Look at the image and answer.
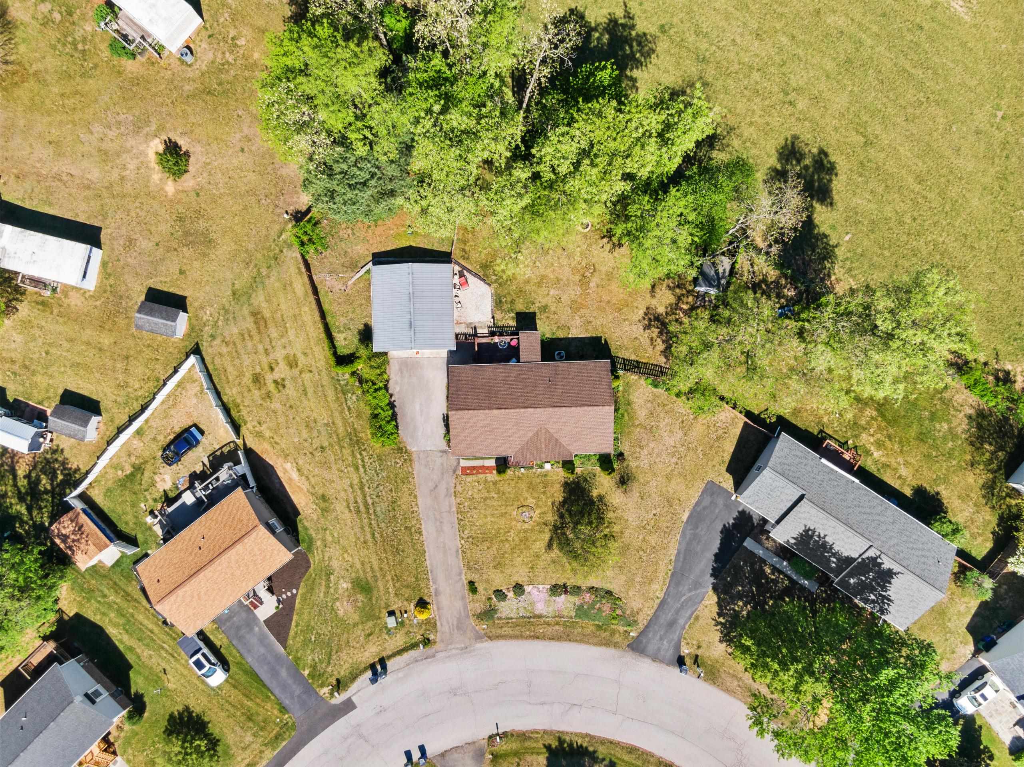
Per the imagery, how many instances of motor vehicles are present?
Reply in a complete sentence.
I count 3 motor vehicles.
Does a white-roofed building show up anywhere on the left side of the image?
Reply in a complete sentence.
Yes, I can see a white-roofed building on the left side of the image.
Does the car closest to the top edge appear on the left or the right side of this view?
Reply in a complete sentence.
The car closest to the top edge is on the left side of the image.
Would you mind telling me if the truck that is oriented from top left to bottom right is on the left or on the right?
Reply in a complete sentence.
It is on the left.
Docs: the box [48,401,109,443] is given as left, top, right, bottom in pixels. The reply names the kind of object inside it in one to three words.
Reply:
shed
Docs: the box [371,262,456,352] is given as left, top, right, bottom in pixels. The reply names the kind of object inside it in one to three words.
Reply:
building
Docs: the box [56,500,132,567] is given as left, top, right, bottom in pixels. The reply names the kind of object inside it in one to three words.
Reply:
shed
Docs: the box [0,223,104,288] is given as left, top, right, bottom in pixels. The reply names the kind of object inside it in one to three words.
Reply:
house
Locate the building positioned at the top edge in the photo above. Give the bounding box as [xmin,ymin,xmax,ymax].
[111,0,212,63]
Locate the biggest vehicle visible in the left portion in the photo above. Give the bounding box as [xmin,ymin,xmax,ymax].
[178,632,229,687]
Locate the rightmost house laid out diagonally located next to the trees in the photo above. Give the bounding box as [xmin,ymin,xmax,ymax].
[730,421,957,628]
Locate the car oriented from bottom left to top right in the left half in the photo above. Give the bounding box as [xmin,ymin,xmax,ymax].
[160,425,205,467]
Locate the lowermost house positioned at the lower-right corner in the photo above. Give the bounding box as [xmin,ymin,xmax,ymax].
[973,610,1024,716]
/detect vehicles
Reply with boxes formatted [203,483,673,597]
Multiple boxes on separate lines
[178,632,229,687]
[955,672,1002,715]
[160,425,205,467]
